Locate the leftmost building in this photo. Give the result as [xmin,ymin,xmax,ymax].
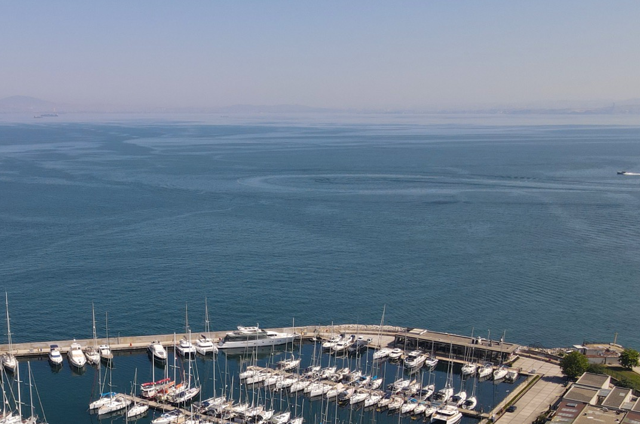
[395,328,520,363]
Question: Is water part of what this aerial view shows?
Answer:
Yes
